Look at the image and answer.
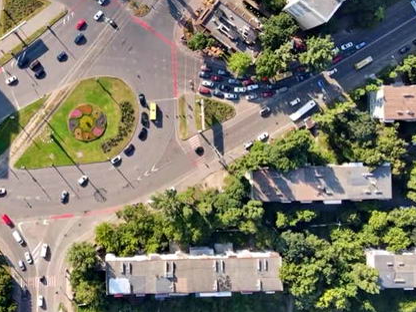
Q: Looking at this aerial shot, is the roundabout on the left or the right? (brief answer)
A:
left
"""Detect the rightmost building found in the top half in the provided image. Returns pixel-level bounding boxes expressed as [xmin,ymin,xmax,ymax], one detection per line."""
[364,86,416,125]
